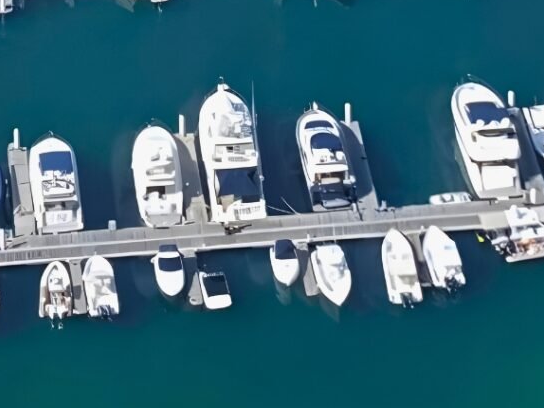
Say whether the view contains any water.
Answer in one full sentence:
Yes, water shows up in the scene.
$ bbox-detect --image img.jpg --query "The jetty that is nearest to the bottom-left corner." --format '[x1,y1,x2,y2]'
[70,261,86,316]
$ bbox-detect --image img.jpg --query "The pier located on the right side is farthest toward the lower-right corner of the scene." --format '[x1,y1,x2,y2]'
[408,232,431,287]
